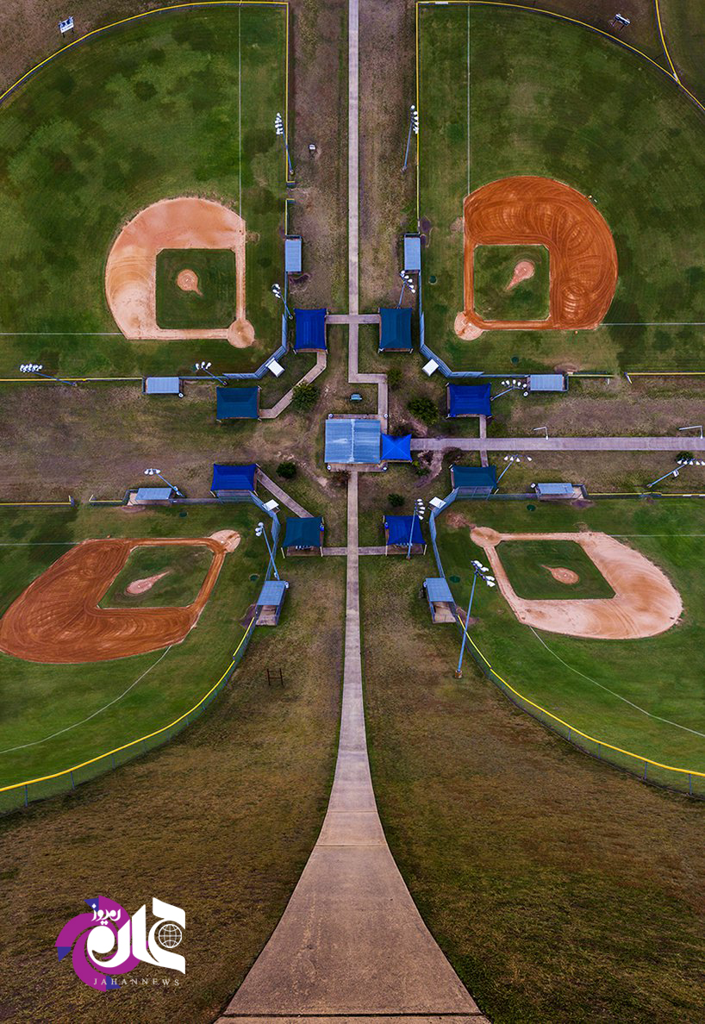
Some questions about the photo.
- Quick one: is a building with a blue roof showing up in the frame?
Yes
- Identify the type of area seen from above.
sports ground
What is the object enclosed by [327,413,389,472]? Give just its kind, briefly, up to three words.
building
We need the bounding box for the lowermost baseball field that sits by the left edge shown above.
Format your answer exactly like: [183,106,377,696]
[0,502,277,812]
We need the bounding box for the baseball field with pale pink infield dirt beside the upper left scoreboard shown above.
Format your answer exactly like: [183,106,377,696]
[0,7,287,379]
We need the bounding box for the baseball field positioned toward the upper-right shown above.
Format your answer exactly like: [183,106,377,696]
[417,7,705,376]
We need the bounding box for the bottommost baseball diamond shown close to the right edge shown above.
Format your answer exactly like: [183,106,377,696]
[433,498,705,798]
